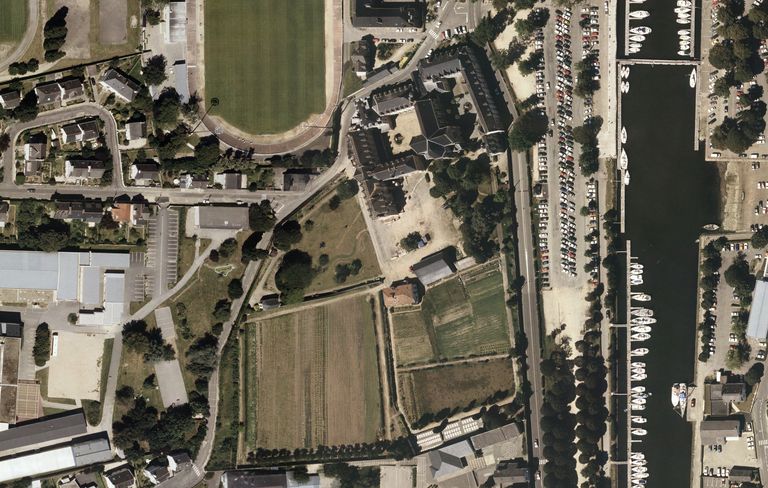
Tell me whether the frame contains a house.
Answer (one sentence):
Yes, the image includes a house.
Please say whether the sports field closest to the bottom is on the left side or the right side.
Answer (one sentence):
You can find the sports field closest to the bottom on the left side of the picture.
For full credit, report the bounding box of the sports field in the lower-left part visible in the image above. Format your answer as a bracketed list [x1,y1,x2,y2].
[48,333,105,401]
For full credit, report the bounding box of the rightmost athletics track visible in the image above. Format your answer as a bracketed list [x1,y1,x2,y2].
[187,0,344,156]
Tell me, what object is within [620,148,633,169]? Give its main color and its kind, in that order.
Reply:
white boat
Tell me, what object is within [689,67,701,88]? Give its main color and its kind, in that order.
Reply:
white boat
